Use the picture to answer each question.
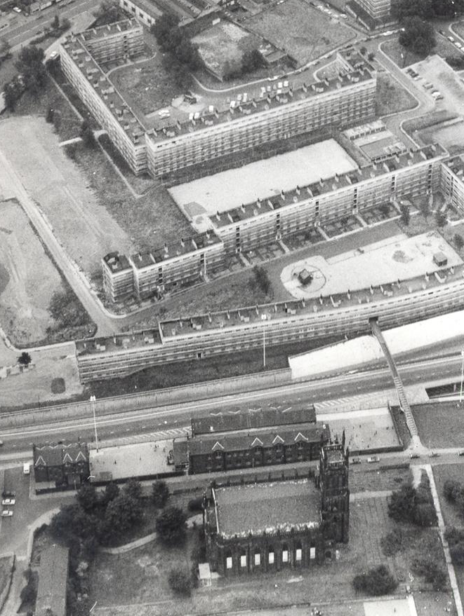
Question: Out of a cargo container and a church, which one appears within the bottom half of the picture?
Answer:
church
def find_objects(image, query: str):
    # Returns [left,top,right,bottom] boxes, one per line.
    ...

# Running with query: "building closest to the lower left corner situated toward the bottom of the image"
[38,541,80,616]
